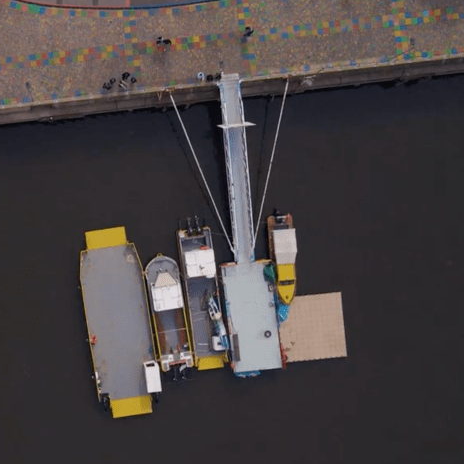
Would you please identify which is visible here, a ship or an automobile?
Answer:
ship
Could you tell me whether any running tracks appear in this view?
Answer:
No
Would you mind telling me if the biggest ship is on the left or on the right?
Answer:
left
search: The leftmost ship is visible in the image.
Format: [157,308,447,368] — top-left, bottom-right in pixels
[77,226,162,418]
